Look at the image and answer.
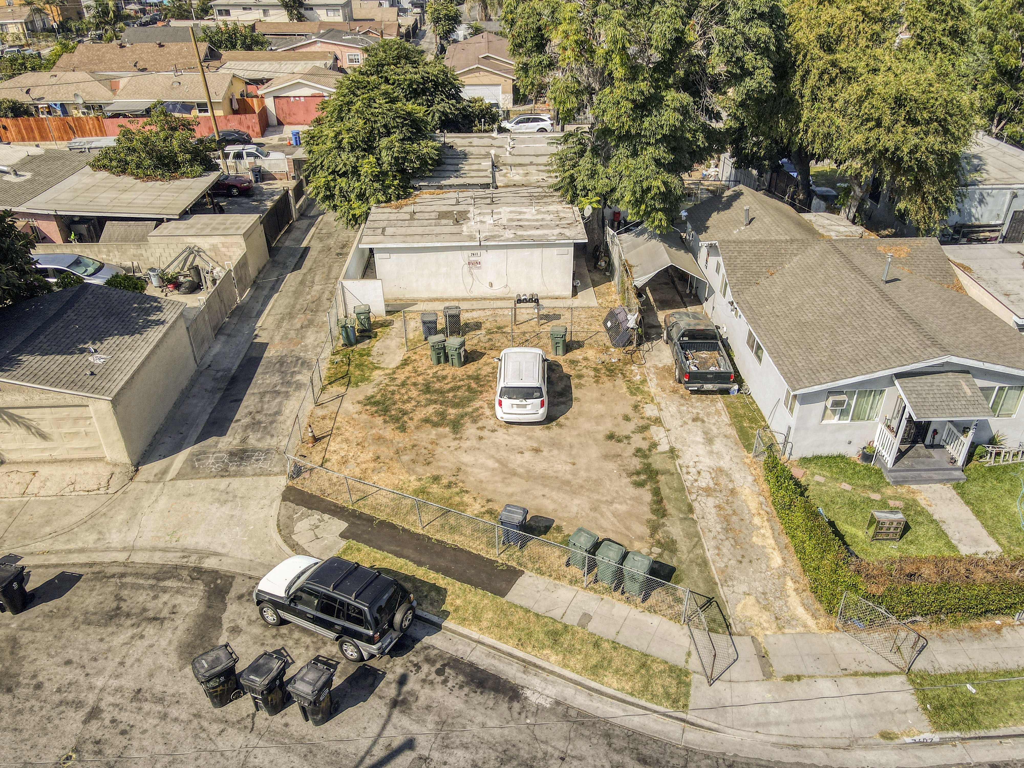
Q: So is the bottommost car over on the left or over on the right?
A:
left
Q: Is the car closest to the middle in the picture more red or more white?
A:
white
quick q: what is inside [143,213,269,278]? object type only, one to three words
shed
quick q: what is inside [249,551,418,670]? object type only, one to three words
car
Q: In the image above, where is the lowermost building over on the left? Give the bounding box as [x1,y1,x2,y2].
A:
[0,280,197,468]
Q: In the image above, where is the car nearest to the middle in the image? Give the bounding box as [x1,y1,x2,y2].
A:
[488,342,549,423]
